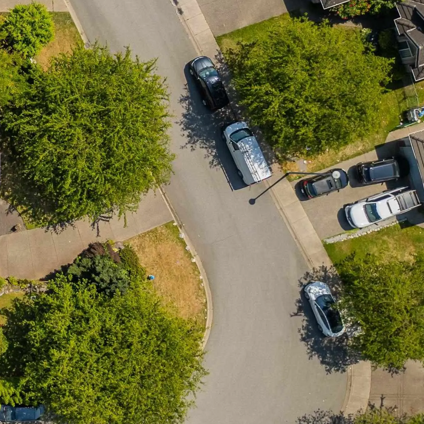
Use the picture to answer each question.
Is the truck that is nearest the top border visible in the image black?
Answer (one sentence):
Yes, the truck that is nearest the top border is black.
